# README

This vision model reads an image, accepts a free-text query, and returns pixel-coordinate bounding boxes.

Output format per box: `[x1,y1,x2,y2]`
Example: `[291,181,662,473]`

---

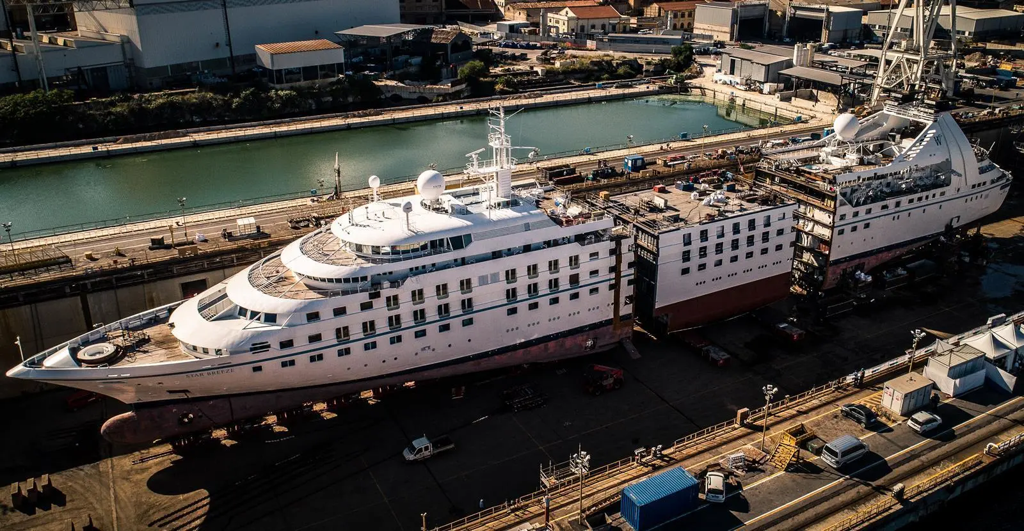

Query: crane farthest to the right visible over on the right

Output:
[874,0,959,99]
